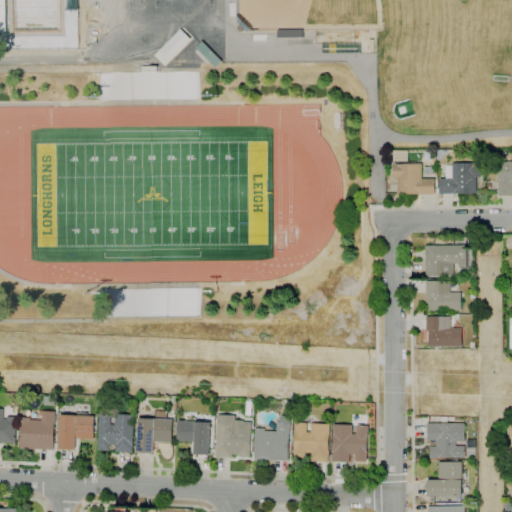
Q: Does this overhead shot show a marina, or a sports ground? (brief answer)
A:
sports ground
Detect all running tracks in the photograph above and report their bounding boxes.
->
[0,103,344,284]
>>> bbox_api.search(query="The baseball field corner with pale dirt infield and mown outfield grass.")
[239,0,376,28]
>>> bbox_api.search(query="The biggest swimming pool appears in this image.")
[257,411,278,426]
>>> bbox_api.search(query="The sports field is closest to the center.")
[32,126,273,261]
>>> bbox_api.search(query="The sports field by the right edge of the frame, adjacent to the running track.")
[380,0,512,132]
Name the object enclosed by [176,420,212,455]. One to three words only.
house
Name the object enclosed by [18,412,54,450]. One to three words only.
house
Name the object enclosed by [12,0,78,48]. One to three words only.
building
